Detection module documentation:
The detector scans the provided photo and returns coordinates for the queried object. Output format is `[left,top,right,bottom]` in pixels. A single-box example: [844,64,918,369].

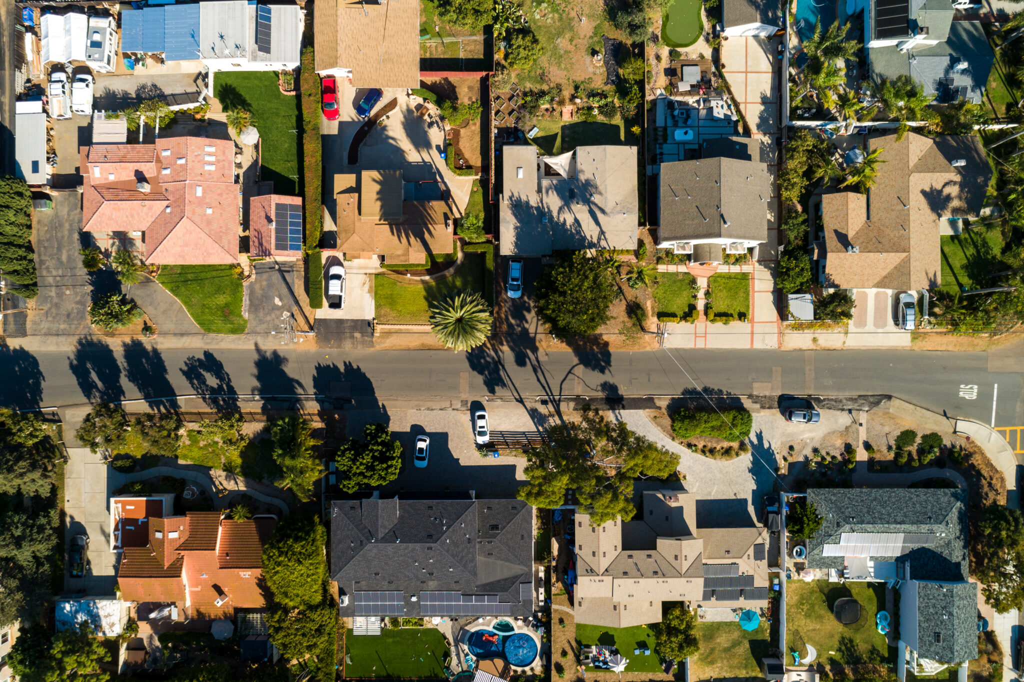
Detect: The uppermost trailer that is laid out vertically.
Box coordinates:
[89,15,121,85]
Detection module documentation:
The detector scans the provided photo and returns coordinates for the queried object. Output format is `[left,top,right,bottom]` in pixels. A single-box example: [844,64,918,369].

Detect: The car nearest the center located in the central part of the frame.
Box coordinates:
[506,260,524,298]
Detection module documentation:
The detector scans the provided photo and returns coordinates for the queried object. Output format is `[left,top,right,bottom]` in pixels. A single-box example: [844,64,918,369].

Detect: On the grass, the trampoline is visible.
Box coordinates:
[832,594,869,629]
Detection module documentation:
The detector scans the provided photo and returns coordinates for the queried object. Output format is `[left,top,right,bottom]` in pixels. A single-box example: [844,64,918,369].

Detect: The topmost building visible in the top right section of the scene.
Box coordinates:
[719,0,781,35]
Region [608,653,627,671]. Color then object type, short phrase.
white umbrella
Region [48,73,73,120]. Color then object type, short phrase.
white truck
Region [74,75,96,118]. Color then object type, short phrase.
white vehicle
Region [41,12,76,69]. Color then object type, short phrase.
white tent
